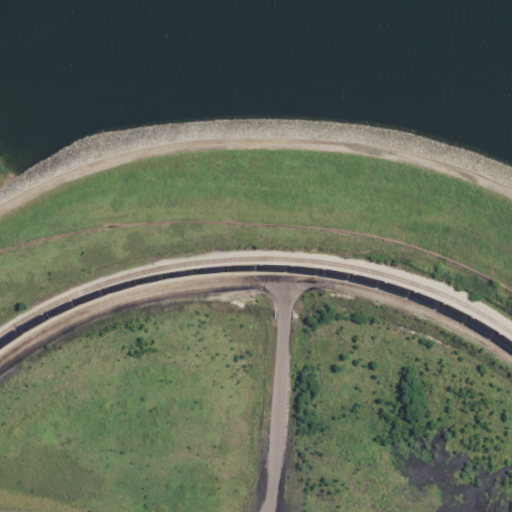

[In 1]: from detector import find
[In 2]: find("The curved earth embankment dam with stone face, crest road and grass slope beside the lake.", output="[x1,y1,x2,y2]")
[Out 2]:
[0,118,512,288]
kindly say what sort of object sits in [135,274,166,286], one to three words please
rail car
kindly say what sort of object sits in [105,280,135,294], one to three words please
rail car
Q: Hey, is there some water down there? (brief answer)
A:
Yes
